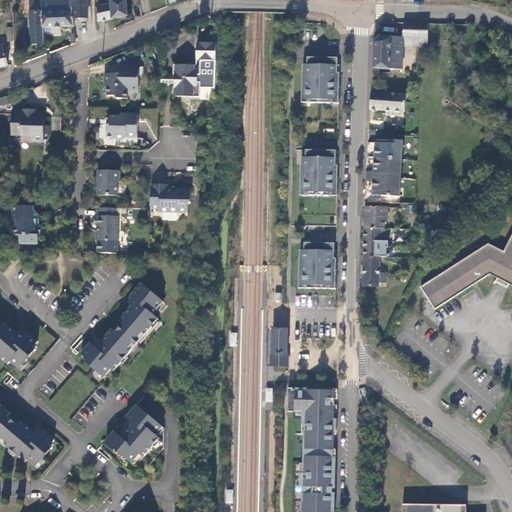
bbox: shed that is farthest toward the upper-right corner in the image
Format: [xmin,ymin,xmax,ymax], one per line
[402,29,428,50]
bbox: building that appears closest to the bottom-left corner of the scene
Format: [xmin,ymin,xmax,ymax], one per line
[0,400,58,475]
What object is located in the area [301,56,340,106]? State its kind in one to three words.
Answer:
house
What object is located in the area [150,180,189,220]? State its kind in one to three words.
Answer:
house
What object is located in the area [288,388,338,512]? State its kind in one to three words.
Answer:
building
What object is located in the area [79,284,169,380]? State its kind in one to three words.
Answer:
building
